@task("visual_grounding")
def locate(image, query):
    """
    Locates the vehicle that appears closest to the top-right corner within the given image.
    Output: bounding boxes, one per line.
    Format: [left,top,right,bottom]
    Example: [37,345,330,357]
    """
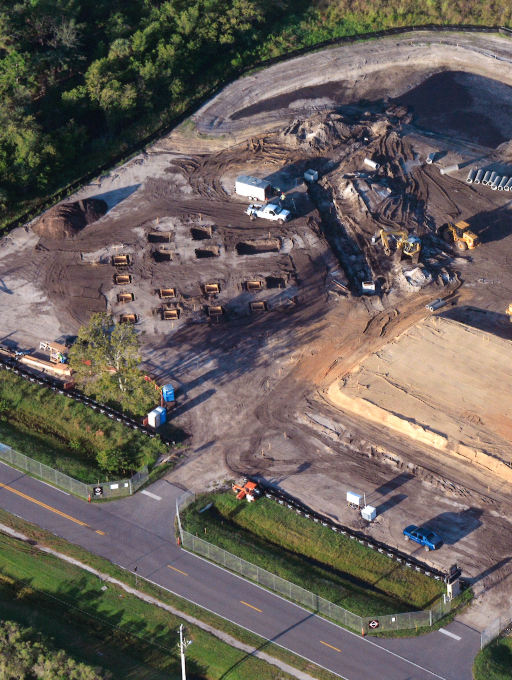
[435,219,481,251]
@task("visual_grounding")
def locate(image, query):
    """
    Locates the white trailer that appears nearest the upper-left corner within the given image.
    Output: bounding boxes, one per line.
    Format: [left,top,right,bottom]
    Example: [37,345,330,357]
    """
[228,174,279,204]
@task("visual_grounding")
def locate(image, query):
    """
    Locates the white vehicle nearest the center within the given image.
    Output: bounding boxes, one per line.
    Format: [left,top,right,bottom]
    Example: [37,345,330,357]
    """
[248,202,293,224]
